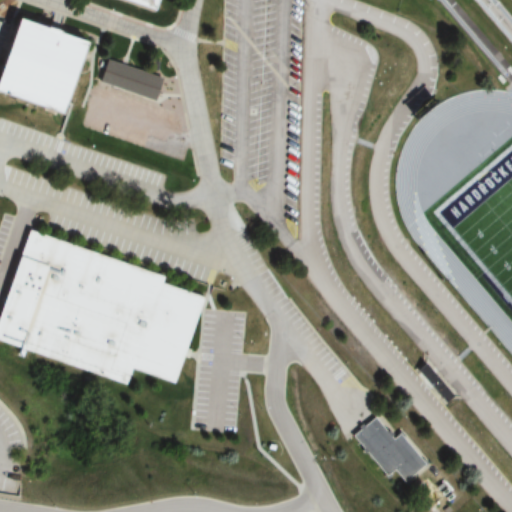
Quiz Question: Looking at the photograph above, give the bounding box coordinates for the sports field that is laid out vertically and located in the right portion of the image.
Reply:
[422,136,512,322]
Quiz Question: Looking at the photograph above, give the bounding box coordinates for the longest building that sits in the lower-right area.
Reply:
[355,417,429,480]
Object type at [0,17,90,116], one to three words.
building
